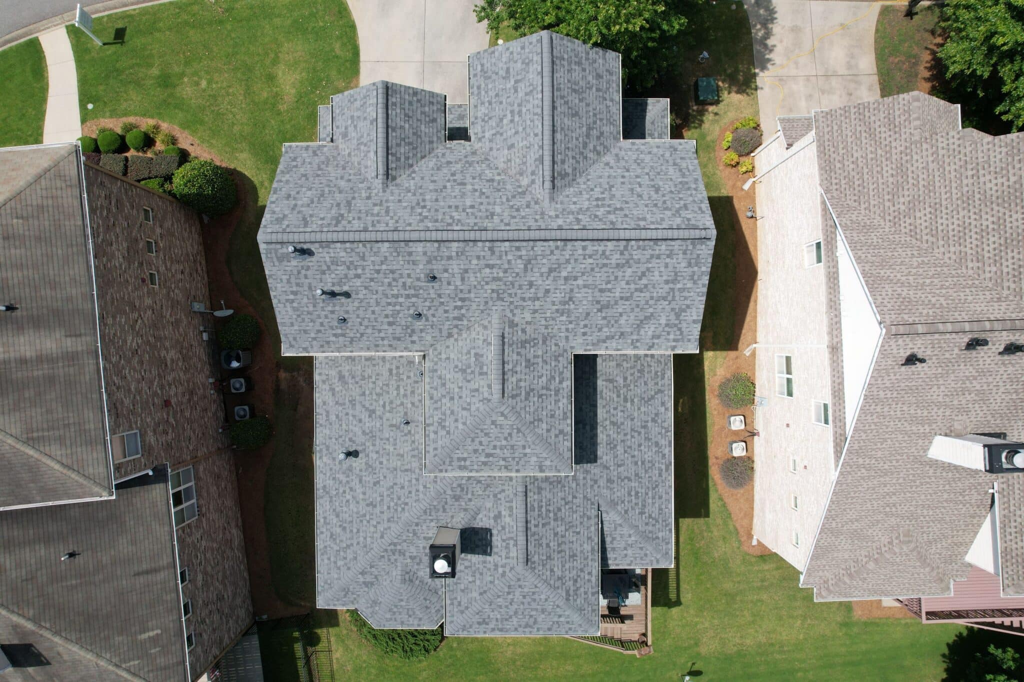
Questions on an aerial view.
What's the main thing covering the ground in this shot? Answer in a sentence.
The scene is dominated by buildings.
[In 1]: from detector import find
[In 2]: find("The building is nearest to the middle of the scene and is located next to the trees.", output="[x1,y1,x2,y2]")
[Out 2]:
[258,31,716,635]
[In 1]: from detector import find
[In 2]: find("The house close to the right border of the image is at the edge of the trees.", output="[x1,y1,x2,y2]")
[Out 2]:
[743,91,1024,603]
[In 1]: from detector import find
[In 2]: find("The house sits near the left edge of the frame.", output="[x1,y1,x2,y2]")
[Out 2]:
[0,142,255,682]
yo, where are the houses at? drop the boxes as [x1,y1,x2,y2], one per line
[743,91,1024,603]
[258,31,716,635]
[0,142,255,682]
